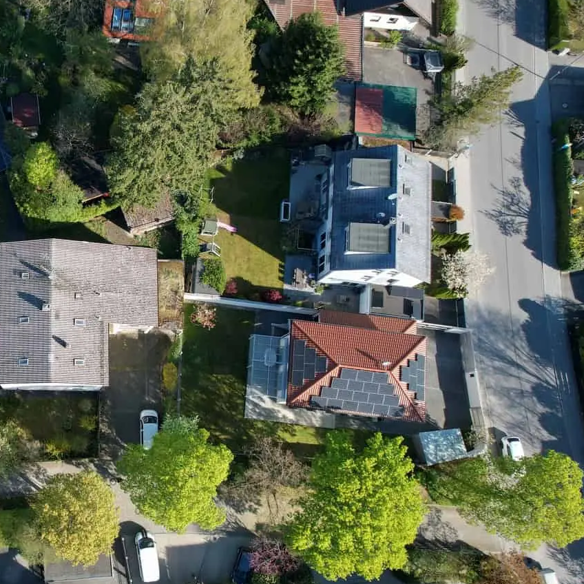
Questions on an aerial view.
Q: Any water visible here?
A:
No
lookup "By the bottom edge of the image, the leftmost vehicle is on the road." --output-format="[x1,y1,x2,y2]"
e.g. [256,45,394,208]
[131,529,161,584]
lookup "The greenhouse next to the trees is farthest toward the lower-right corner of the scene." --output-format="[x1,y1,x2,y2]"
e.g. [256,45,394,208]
[410,429,467,465]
